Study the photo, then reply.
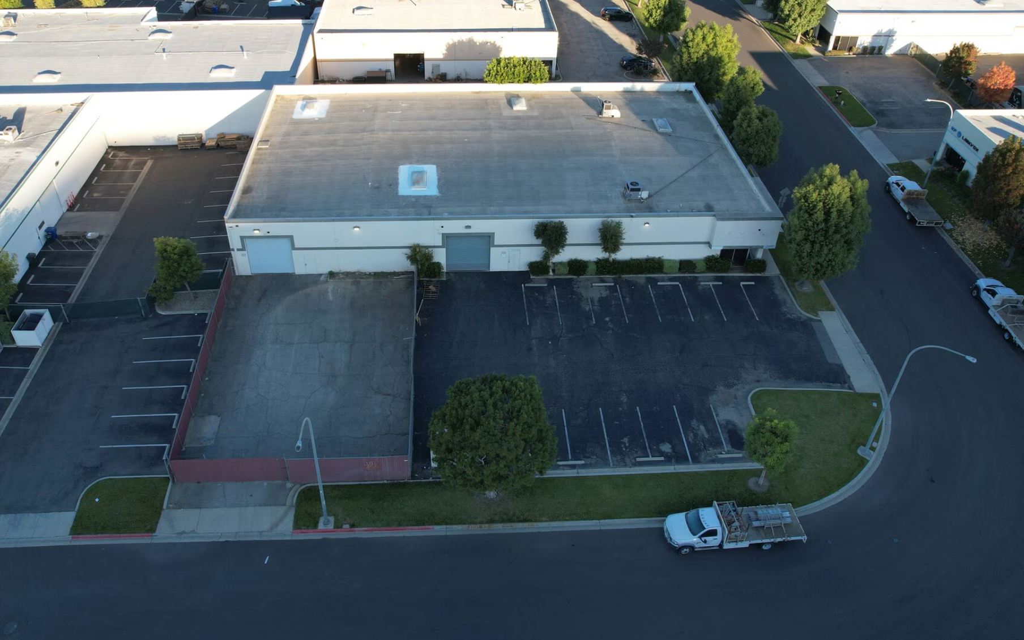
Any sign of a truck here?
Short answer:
Yes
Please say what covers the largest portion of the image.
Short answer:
paved ground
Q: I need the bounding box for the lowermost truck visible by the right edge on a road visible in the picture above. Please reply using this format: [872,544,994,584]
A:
[973,281,1024,340]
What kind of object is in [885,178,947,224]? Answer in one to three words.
truck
